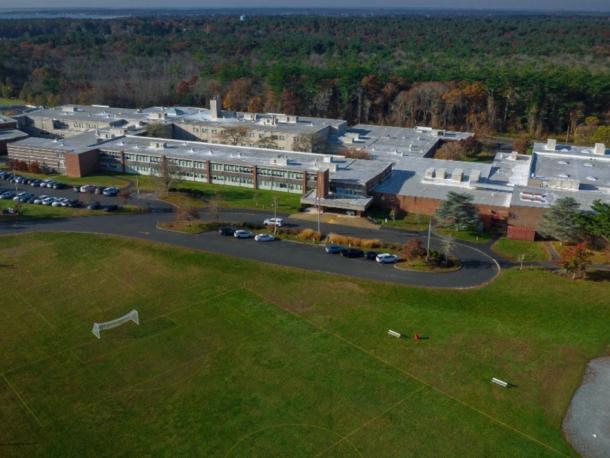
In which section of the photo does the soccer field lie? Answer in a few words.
bottom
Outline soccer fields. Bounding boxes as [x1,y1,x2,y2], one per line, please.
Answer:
[0,261,560,458]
